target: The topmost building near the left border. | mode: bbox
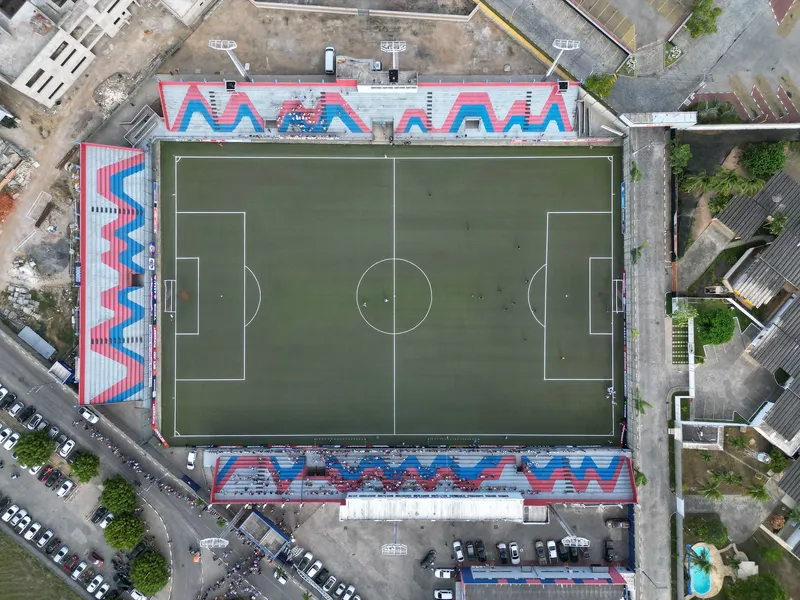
[12,0,142,110]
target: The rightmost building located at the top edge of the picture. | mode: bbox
[161,0,217,30]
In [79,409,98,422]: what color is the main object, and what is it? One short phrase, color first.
white vehicle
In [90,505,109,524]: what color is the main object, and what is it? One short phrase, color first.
black car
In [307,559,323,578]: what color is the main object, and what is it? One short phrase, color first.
white car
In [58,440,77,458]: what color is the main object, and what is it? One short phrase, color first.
white car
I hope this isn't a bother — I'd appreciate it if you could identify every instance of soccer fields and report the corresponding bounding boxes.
[159,142,622,447]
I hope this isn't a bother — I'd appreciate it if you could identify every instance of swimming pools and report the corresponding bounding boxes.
[687,542,724,600]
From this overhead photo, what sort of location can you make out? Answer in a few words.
sports ground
